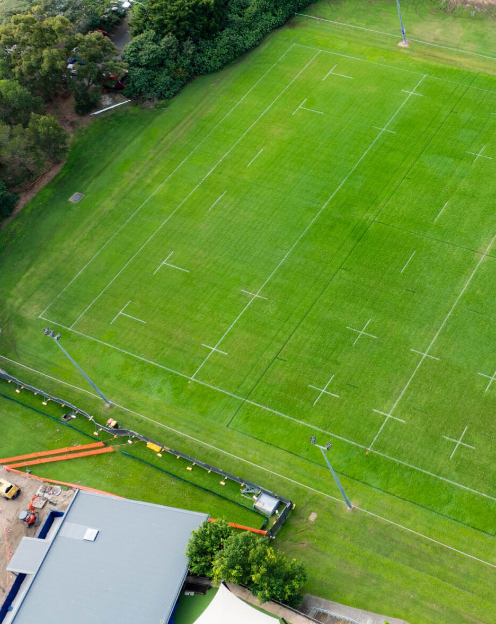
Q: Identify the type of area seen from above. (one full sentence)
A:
What you see here is a sports ground.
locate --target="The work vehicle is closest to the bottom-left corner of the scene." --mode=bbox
[17,495,41,533]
